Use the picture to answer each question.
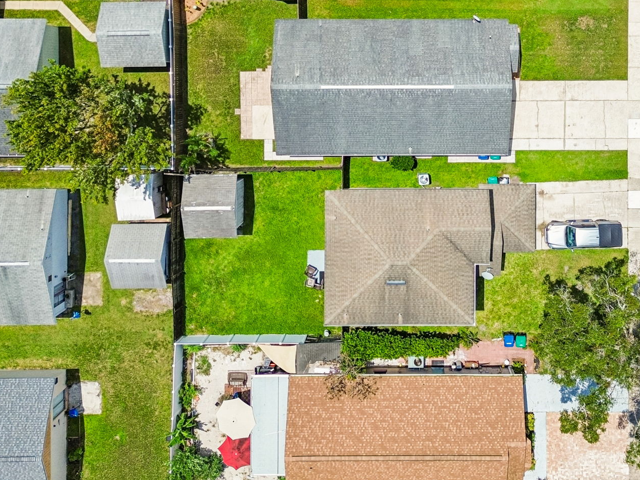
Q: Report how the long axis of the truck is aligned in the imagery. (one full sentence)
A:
I'd say the truck is aligned from side to side in the picture.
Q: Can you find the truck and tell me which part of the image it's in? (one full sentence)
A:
The truck is located in the right region of the scene.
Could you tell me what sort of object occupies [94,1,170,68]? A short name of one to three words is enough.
shed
